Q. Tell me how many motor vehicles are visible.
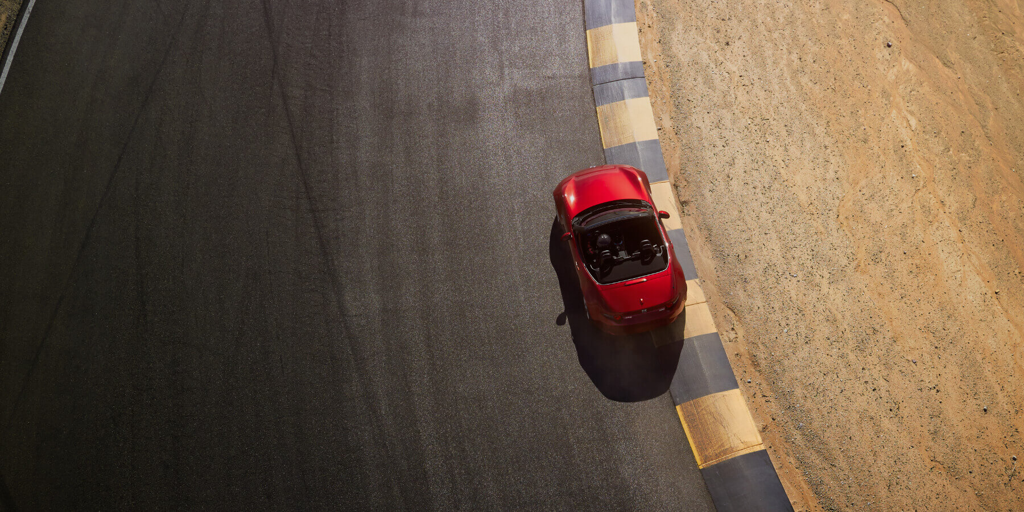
1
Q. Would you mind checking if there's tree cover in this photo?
No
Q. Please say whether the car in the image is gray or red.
red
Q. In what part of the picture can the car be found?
center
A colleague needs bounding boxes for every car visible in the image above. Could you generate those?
[554,164,687,340]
